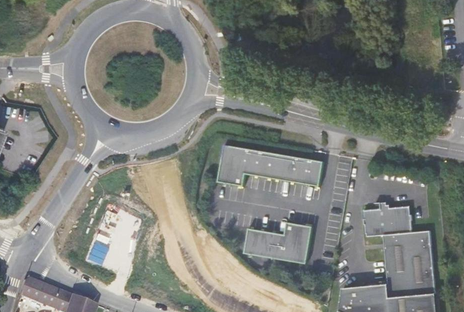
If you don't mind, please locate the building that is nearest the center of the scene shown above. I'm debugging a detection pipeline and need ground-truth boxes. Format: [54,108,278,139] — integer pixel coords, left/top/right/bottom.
[216,144,322,190]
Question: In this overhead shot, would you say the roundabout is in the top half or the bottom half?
top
